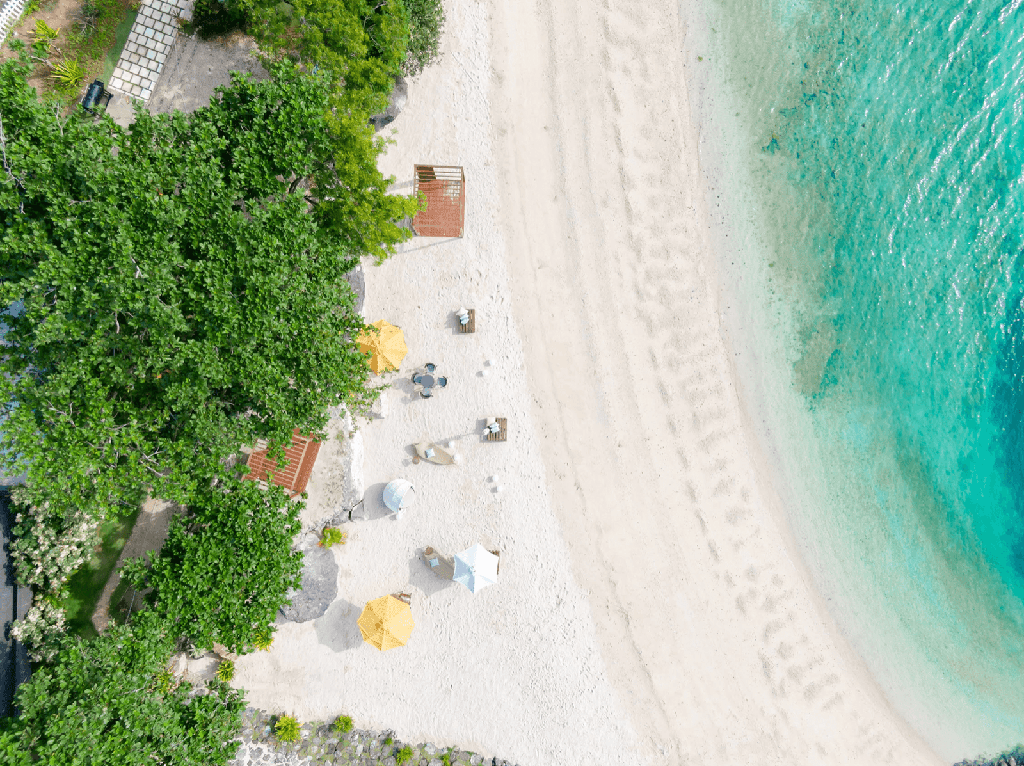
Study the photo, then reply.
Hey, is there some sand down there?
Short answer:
Yes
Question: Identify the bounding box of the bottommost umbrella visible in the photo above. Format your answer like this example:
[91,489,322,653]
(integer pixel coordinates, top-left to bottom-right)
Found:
[357,593,415,652]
